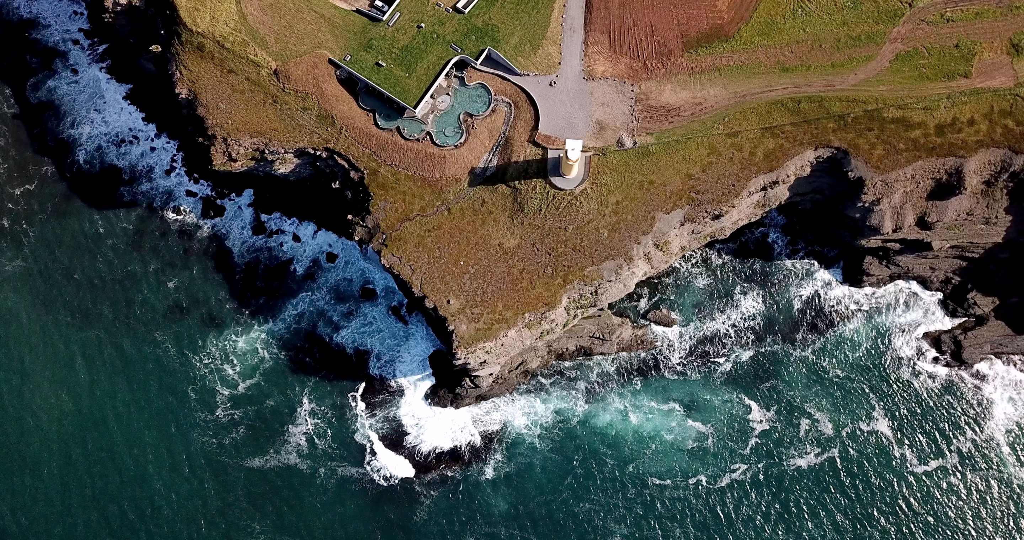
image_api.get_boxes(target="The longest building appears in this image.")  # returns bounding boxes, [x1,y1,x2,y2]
[329,47,520,115]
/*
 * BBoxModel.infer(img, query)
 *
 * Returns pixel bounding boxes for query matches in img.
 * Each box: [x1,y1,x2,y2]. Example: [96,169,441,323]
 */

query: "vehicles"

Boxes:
[374,0,389,13]
[369,7,383,18]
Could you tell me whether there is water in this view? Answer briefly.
Yes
